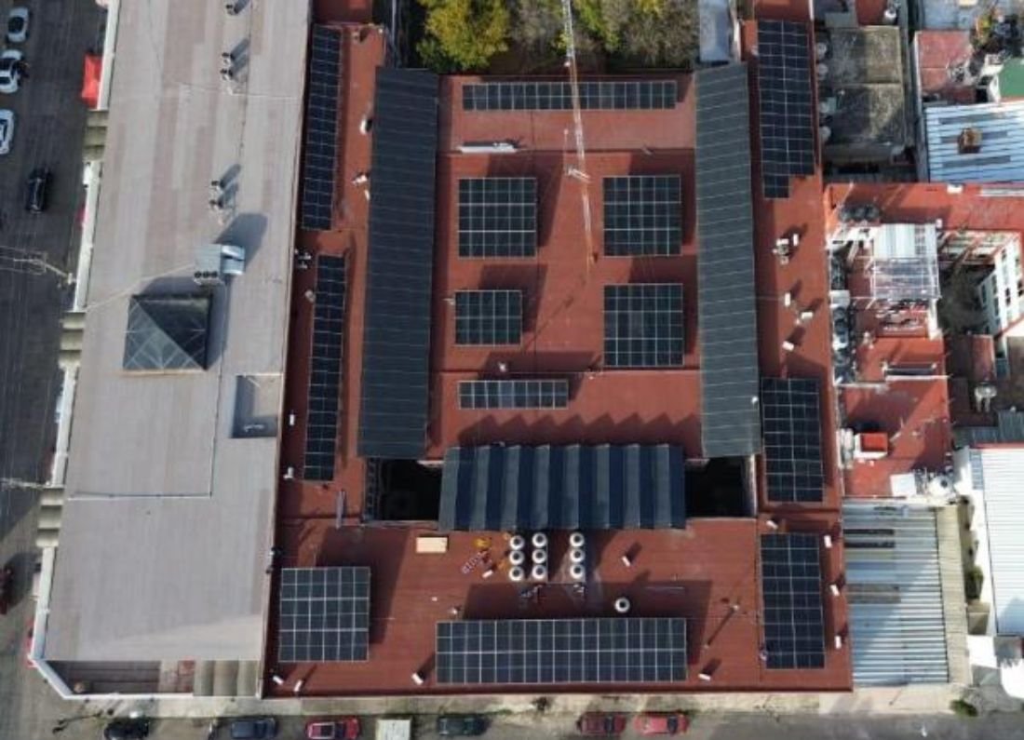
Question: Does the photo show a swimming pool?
No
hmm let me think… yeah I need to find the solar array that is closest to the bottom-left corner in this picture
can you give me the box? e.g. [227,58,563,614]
[279,564,377,662]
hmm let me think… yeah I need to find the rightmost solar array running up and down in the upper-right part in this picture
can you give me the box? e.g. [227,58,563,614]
[756,21,815,197]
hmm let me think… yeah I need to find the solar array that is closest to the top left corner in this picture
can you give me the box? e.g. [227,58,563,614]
[305,25,340,229]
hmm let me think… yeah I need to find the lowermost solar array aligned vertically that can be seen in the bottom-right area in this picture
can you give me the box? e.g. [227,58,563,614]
[758,534,827,668]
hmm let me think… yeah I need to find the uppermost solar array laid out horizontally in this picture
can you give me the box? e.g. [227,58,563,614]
[463,81,677,118]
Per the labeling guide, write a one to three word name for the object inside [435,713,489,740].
car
